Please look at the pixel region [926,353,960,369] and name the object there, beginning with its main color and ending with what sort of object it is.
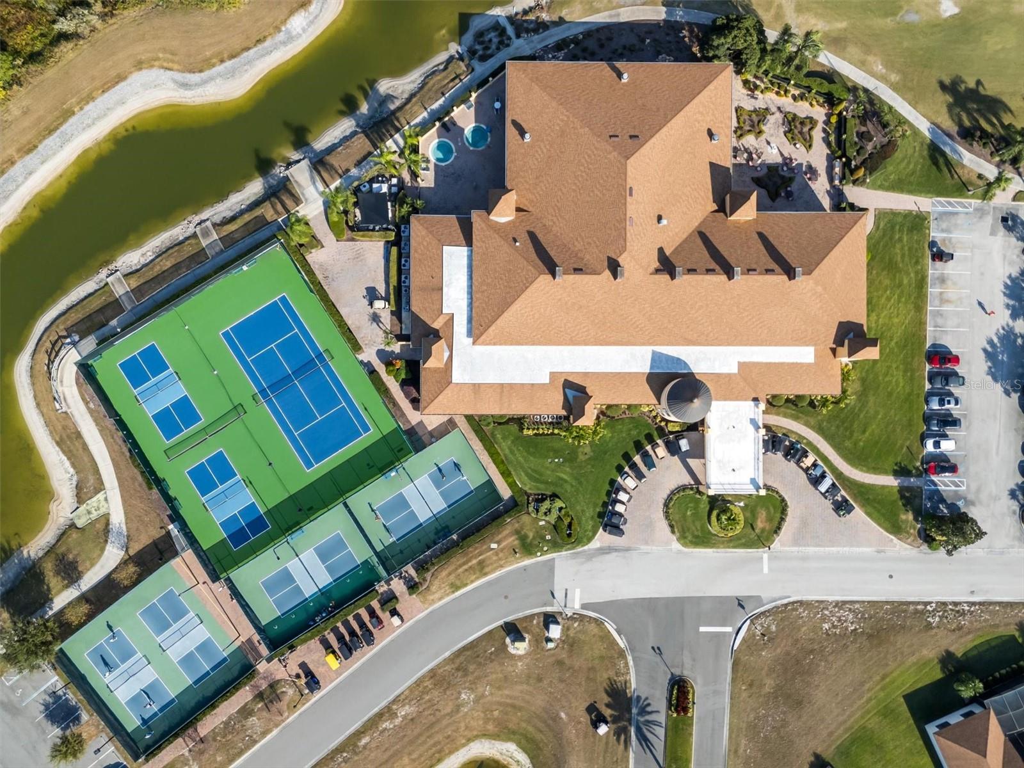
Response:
red car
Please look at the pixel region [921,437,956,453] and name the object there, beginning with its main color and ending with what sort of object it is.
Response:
white car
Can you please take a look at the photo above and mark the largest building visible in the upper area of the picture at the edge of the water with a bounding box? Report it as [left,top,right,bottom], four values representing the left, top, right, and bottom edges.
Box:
[410,61,880,495]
